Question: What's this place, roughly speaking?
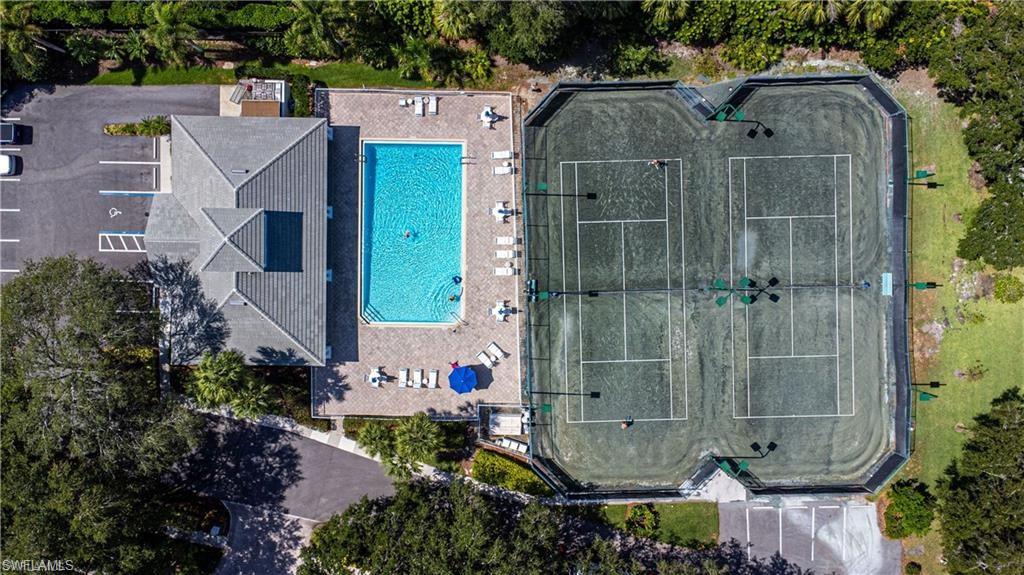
sports ground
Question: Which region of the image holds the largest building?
left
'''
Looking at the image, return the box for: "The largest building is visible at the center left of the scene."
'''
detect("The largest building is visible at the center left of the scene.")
[140,115,333,366]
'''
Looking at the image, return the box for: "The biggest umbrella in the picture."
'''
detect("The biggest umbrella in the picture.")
[448,364,478,394]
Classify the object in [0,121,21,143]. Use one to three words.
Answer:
truck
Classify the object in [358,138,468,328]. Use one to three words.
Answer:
swimming pool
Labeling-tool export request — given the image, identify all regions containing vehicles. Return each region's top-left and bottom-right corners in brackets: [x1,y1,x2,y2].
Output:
[0,155,15,176]
[0,121,21,143]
